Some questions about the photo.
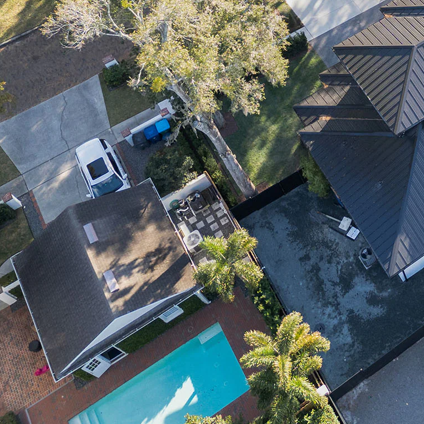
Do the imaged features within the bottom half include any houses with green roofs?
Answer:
No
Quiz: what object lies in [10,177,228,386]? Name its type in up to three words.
house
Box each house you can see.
[10,177,228,386]
[293,0,424,282]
